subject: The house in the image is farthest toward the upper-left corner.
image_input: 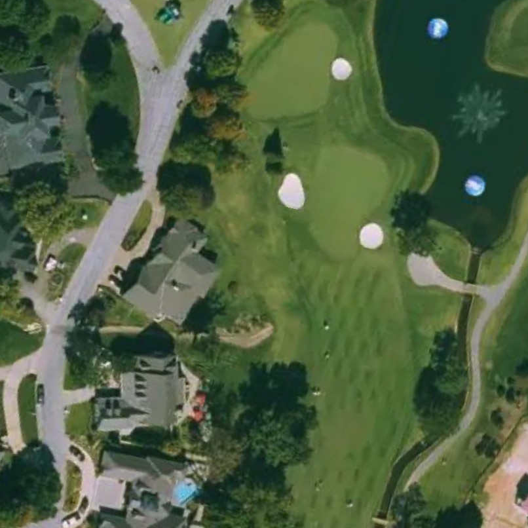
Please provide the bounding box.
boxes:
[0,65,64,174]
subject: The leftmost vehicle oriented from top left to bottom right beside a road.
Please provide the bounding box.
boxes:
[69,442,86,459]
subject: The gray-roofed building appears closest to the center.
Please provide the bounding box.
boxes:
[125,215,218,331]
